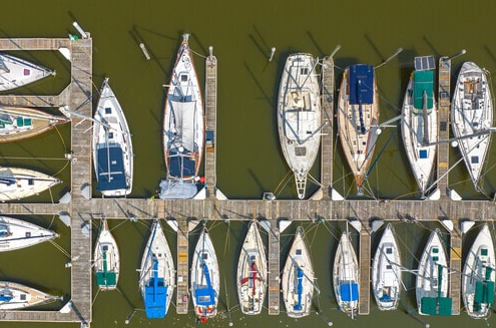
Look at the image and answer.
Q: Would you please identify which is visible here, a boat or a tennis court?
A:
boat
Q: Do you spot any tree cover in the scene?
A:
No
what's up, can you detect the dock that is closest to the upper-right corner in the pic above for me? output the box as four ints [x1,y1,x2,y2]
[436,56,450,199]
